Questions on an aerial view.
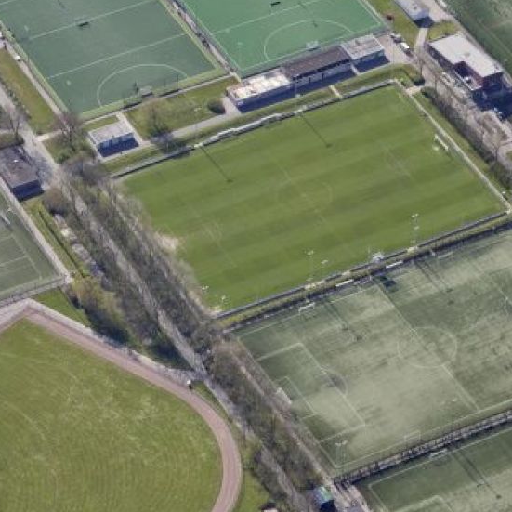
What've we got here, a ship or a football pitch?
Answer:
football pitch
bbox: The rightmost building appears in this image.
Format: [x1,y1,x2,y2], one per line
[428,29,510,99]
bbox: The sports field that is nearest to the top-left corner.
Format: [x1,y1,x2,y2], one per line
[0,0,227,123]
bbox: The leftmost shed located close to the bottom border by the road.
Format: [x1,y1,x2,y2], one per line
[310,488,334,511]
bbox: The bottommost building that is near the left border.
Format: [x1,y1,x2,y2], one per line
[0,145,41,195]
